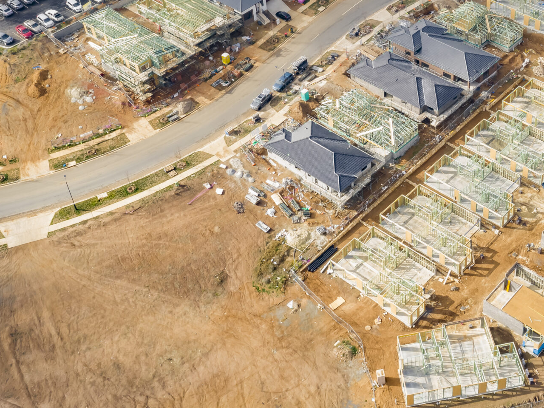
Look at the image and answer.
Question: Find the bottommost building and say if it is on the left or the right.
right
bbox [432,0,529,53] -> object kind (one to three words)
house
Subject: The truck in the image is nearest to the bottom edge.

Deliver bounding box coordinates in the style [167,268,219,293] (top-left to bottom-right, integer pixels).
[248,87,275,108]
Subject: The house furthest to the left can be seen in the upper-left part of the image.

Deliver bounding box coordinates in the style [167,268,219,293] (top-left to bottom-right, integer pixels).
[80,7,175,94]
